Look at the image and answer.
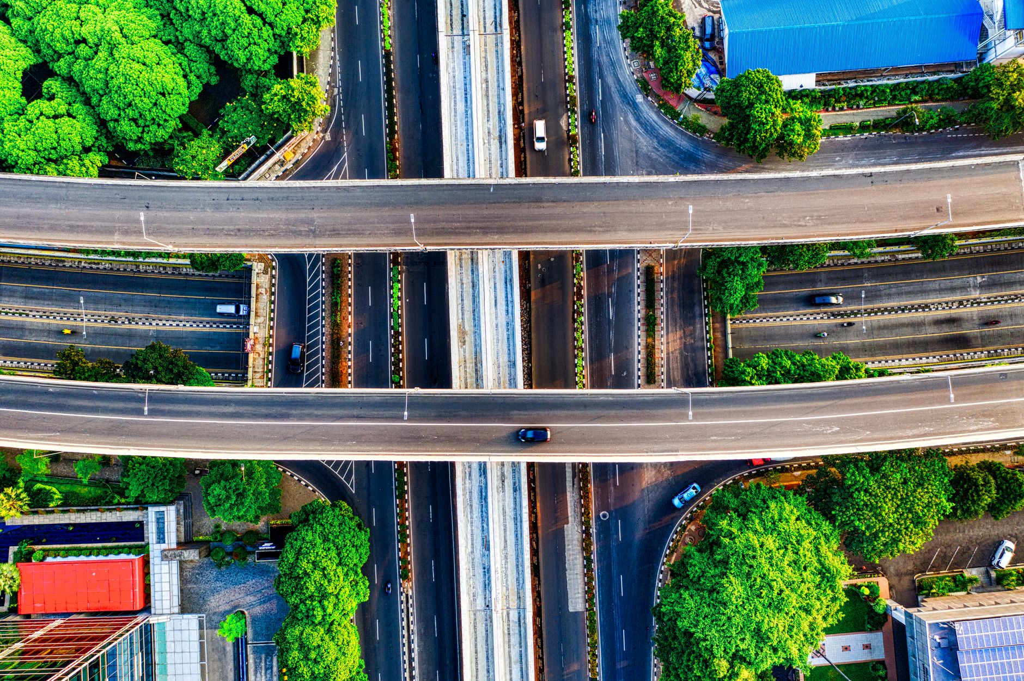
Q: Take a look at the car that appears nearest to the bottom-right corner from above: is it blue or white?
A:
white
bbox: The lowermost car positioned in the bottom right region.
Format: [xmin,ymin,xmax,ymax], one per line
[994,541,1017,573]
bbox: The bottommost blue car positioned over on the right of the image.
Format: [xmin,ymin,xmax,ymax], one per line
[672,483,704,509]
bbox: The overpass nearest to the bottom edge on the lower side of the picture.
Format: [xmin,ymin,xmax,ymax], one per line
[0,363,1024,463]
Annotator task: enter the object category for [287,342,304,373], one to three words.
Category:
car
